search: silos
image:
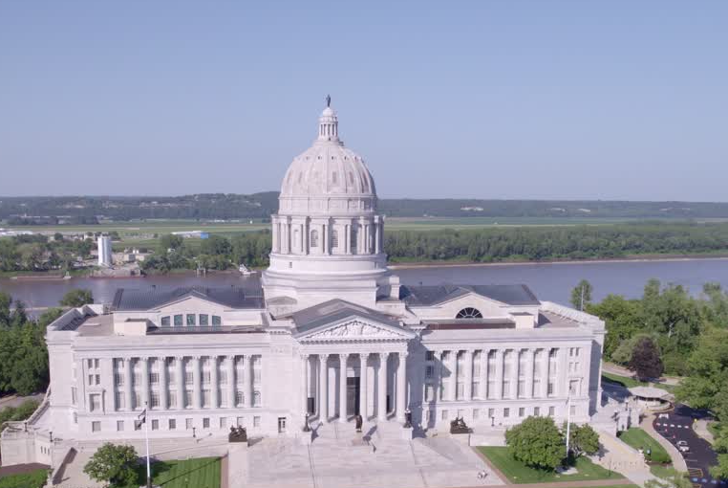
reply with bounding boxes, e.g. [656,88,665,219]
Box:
[98,233,112,267]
